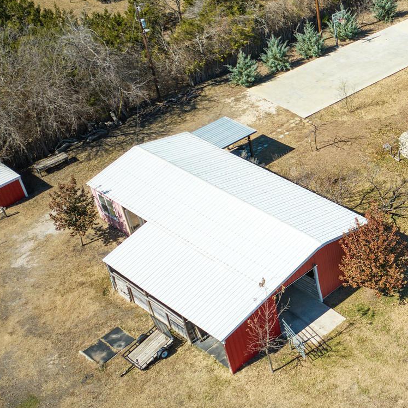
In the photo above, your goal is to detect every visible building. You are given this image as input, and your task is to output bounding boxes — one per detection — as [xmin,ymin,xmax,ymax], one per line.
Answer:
[0,158,27,206]
[86,130,371,373]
